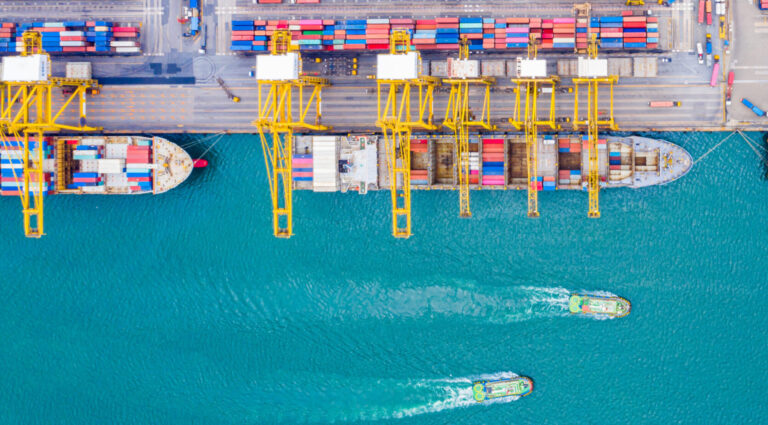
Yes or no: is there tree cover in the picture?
No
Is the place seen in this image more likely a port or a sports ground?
port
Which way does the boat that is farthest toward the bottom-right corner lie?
from side to side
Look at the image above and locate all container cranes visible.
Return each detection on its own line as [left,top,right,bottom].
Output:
[573,0,592,59]
[374,29,446,238]
[0,29,104,238]
[442,36,504,218]
[509,36,565,219]
[254,29,336,238]
[572,36,622,220]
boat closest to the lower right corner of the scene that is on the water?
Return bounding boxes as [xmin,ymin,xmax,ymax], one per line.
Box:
[568,292,632,316]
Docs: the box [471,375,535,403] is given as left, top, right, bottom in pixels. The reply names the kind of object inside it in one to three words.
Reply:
boat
